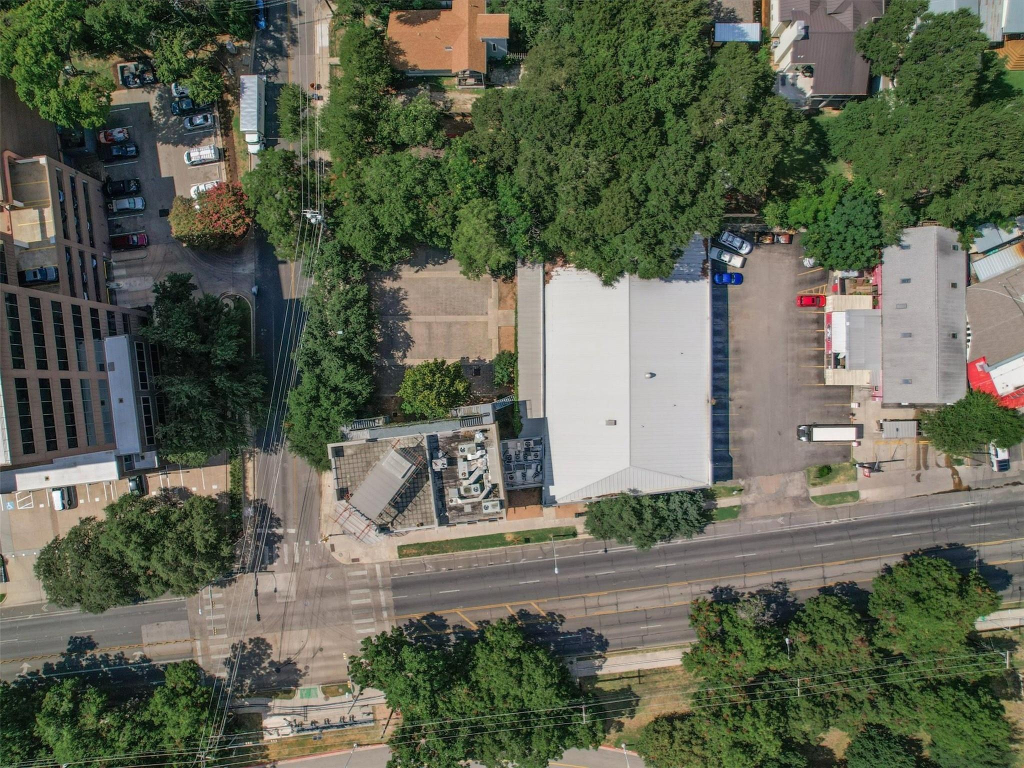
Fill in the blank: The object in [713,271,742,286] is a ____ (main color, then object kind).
blue car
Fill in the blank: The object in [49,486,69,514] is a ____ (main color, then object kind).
white vehicle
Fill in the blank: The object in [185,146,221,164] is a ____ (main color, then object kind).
white vehicle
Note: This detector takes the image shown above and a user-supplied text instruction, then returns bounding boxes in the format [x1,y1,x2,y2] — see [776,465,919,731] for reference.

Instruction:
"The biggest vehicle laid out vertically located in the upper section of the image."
[240,75,265,157]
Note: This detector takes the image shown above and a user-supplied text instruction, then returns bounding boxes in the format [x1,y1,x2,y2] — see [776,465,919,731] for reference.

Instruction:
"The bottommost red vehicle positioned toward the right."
[795,294,825,308]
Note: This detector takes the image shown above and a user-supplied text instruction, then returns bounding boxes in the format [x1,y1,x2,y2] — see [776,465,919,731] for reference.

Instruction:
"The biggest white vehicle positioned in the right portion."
[788,423,856,441]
